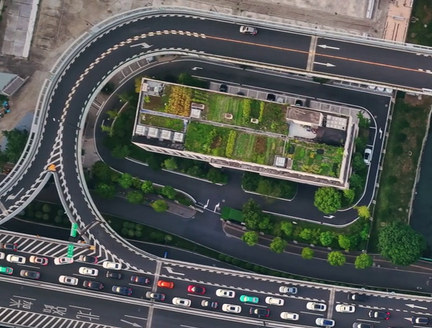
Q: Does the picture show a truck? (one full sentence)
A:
No, no truck can be seen from above.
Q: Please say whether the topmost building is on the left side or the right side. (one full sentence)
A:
The topmost building is on the left side of the image.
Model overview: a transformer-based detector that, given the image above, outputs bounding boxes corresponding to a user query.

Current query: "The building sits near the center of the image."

[130,77,359,189]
